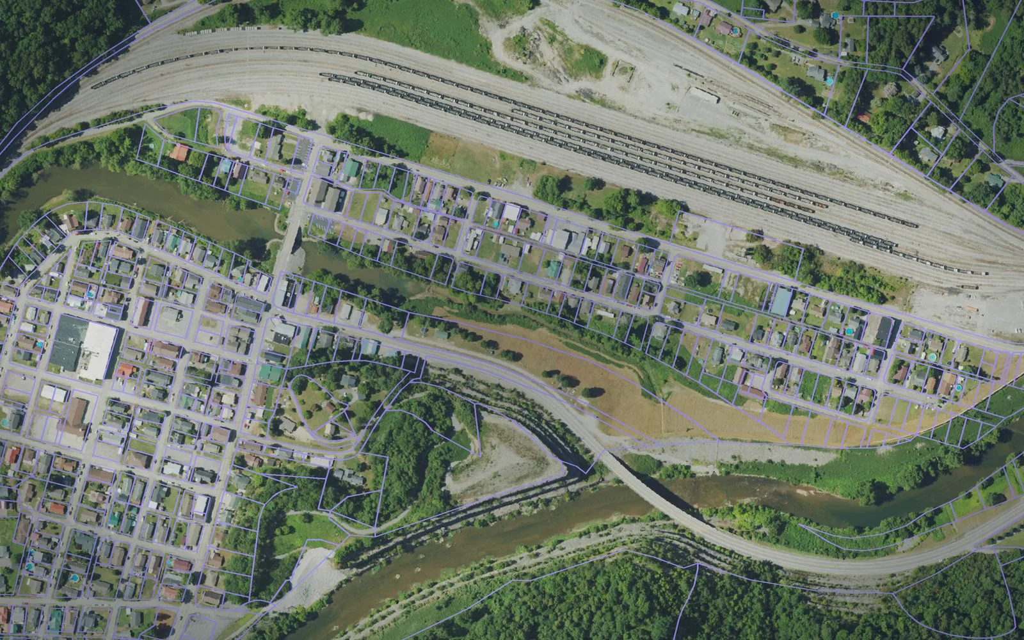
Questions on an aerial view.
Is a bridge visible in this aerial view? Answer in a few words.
Yes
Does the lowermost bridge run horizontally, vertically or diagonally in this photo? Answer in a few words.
diagonally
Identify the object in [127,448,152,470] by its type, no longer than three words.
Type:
building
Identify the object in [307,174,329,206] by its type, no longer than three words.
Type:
building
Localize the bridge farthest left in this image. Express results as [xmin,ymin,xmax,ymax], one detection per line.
[277,206,300,265]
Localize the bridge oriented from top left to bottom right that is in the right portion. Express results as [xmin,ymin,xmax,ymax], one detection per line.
[609,447,714,536]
